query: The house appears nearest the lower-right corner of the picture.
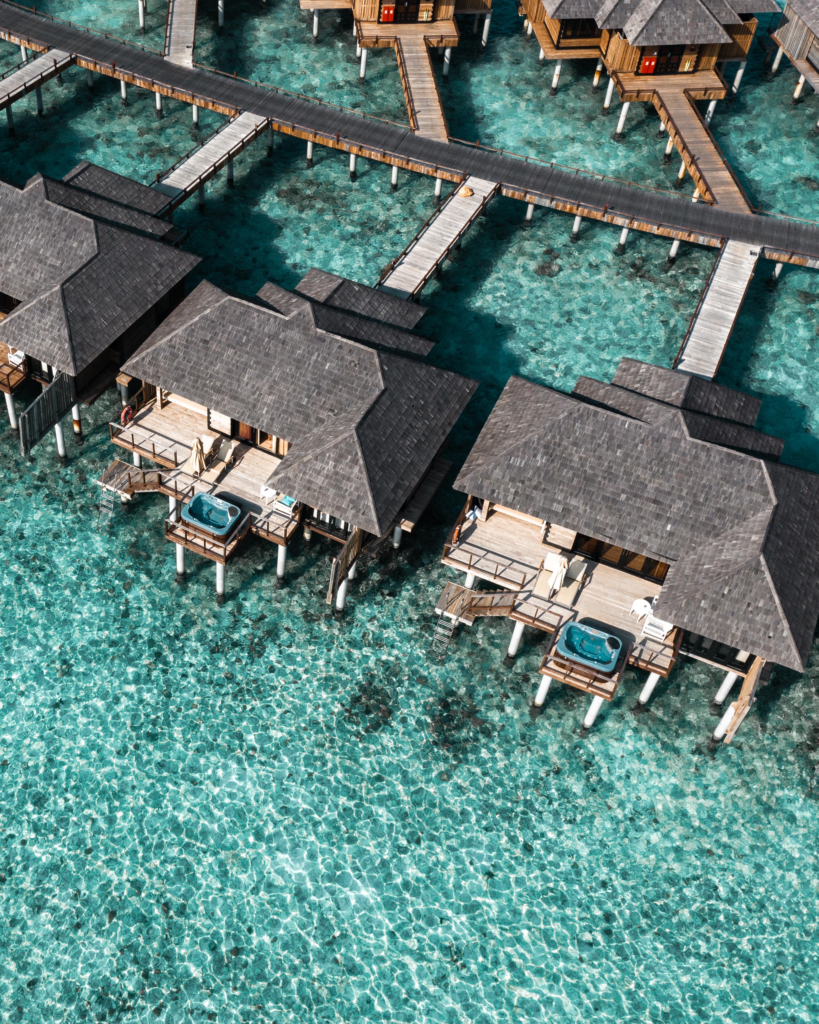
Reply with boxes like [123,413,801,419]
[423,357,819,740]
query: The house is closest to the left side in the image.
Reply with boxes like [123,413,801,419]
[0,157,205,457]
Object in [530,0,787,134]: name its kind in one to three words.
house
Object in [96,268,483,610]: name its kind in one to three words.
house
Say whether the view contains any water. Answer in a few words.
Yes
